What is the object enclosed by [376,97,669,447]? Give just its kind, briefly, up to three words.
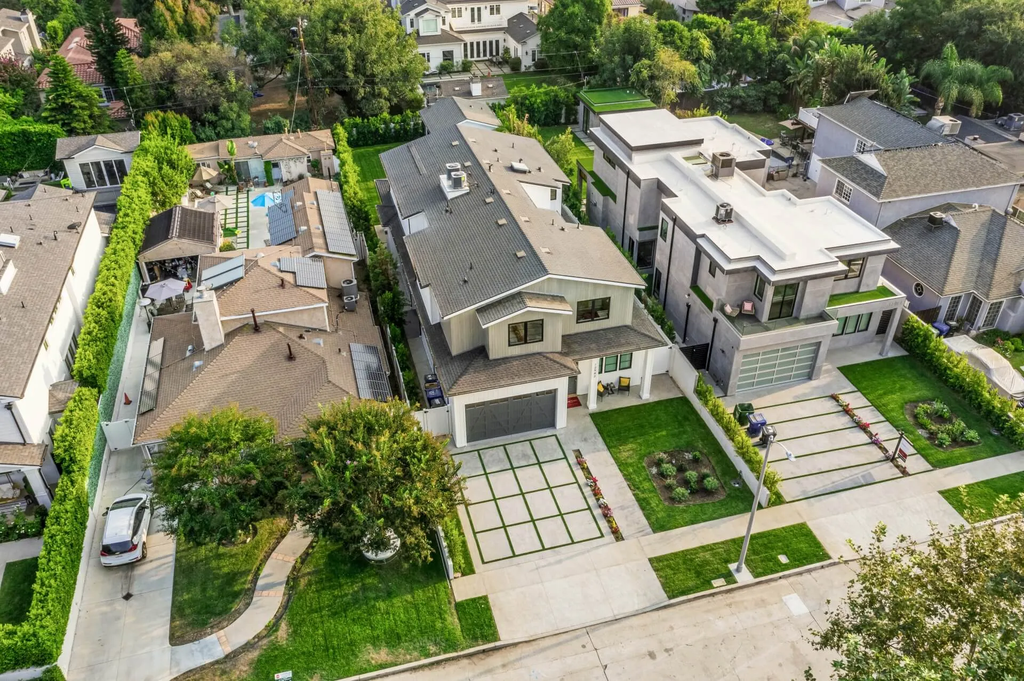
house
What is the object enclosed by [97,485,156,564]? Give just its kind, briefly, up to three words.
car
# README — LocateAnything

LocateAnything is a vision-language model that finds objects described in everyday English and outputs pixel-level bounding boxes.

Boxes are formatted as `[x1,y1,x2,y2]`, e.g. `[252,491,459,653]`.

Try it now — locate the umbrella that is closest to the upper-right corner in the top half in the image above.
[777,123,800,154]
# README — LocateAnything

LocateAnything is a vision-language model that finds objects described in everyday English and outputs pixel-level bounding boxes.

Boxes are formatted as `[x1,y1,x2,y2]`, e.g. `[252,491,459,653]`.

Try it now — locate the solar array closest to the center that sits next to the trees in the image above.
[339,335,384,385]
